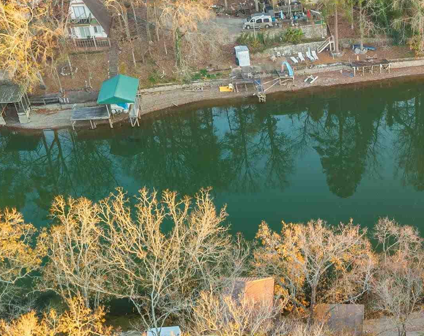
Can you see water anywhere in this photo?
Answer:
Yes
